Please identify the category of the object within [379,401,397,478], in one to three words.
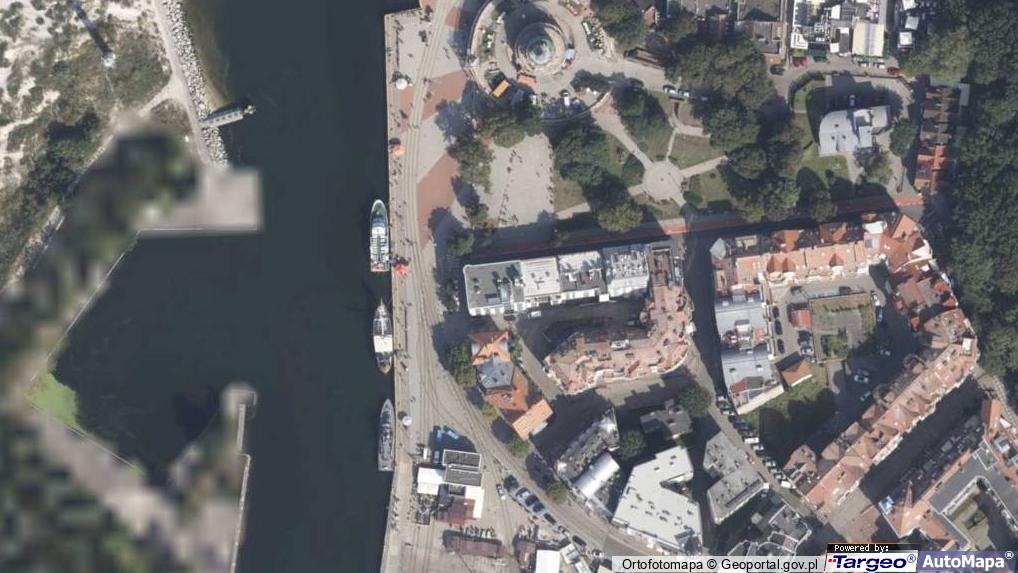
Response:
ship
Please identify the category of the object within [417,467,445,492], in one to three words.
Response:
tent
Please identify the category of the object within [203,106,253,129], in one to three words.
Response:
pier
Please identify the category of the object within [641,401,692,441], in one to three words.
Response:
house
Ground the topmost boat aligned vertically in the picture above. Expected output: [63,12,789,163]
[371,201,394,277]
